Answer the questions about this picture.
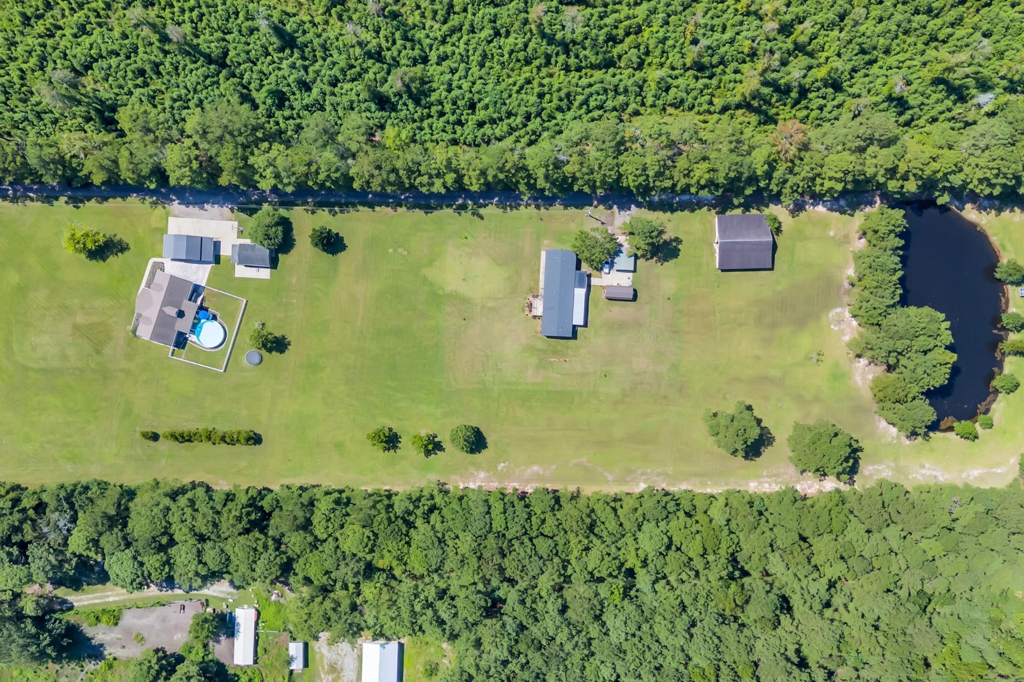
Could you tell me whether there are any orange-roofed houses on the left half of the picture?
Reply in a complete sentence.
No, I can find no orange-roofed house on the left half of the picture.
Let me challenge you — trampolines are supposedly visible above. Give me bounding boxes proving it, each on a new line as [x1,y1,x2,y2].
[245,350,262,366]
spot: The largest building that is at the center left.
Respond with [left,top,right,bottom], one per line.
[136,271,202,346]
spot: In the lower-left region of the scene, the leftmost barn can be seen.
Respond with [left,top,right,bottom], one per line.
[234,606,257,666]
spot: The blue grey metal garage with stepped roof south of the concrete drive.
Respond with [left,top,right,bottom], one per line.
[162,234,216,261]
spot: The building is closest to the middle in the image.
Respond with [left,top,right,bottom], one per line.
[532,250,587,337]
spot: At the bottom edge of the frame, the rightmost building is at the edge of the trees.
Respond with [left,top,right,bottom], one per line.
[363,641,399,682]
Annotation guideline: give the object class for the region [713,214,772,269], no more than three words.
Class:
barn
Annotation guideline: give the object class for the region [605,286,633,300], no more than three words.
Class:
shed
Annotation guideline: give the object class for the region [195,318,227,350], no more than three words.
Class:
swimming pool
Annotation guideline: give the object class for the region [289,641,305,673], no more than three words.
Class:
shed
